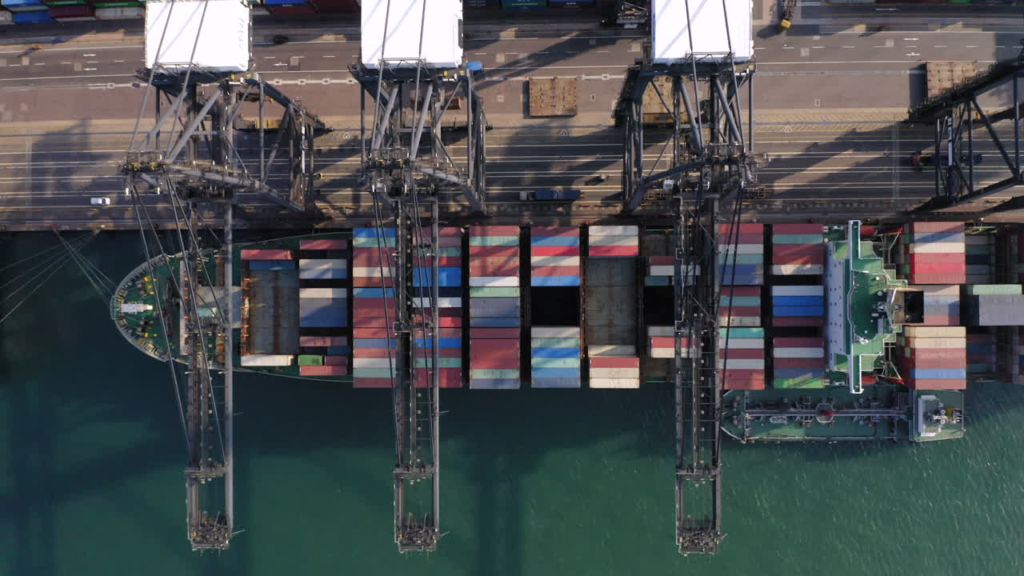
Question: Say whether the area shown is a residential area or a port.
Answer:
port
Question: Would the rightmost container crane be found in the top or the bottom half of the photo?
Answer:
top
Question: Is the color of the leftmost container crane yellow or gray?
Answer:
gray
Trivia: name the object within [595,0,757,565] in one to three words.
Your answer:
container crane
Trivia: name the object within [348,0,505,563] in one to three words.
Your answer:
container crane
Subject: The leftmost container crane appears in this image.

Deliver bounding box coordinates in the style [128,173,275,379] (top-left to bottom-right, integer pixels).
[117,0,348,562]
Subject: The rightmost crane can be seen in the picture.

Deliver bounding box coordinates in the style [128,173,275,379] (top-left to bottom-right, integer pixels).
[896,38,1024,216]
